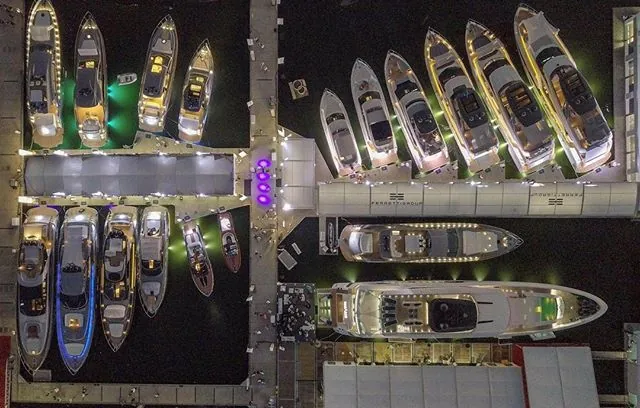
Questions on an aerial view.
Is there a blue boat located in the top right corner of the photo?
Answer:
No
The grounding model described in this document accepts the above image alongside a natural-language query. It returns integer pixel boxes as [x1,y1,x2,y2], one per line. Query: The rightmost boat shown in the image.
[517,0,610,178]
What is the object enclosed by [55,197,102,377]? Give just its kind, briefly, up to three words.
boat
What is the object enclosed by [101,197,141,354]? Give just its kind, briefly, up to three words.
boat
